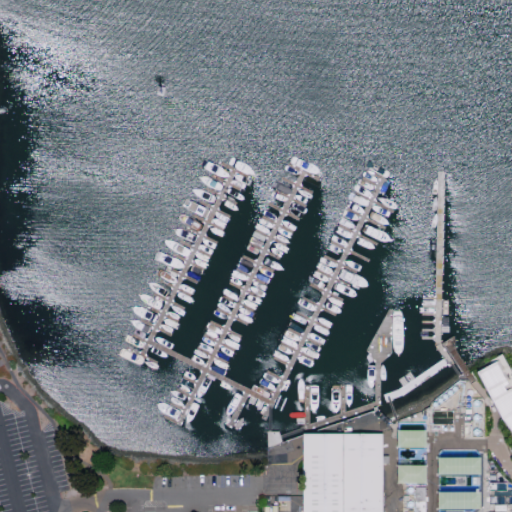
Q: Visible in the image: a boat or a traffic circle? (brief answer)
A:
boat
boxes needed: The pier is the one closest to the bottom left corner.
[158,371,203,423]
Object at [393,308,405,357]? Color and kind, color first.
white ship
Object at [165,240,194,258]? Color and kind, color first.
white boat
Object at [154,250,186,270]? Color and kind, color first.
white boat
